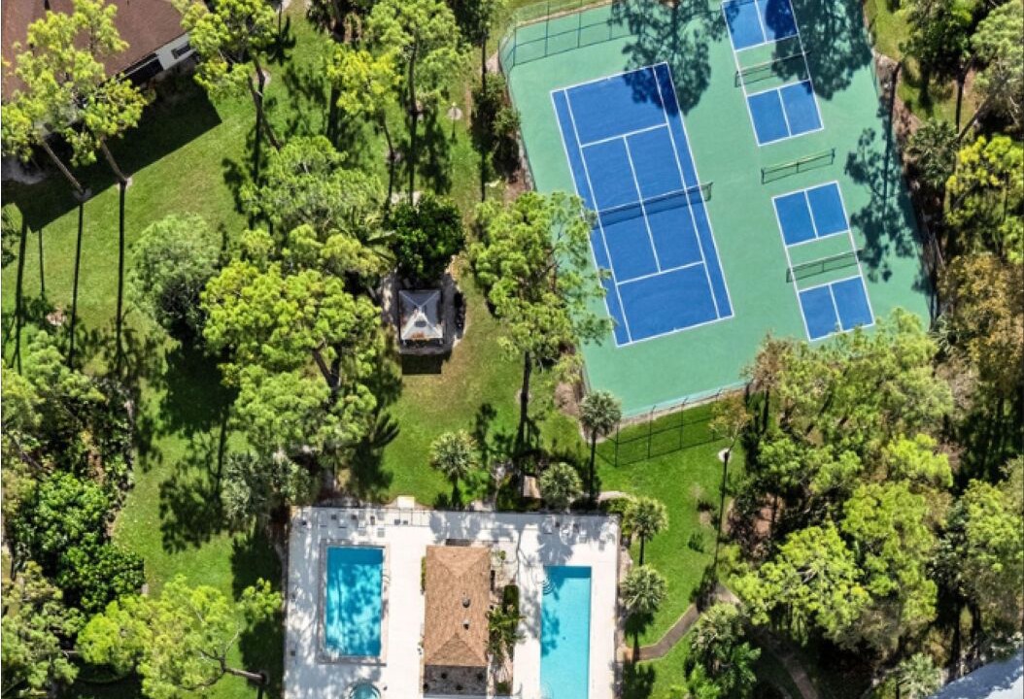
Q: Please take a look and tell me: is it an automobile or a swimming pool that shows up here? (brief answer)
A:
swimming pool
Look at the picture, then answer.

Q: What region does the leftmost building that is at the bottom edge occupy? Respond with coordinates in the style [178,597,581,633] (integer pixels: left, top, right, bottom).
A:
[423,538,491,668]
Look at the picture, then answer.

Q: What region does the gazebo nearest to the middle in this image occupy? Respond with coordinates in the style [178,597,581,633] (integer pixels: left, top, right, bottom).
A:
[399,290,443,344]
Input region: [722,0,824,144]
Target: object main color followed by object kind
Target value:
blue sports court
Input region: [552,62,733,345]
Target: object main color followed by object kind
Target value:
blue tennis court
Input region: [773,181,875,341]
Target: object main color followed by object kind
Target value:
blue sports court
